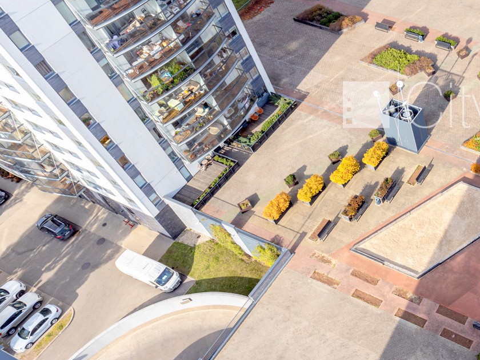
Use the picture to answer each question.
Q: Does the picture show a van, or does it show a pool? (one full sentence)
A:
There is a van in the scene.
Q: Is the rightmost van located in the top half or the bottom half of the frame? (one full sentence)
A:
You can find the rightmost van in the bottom half.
